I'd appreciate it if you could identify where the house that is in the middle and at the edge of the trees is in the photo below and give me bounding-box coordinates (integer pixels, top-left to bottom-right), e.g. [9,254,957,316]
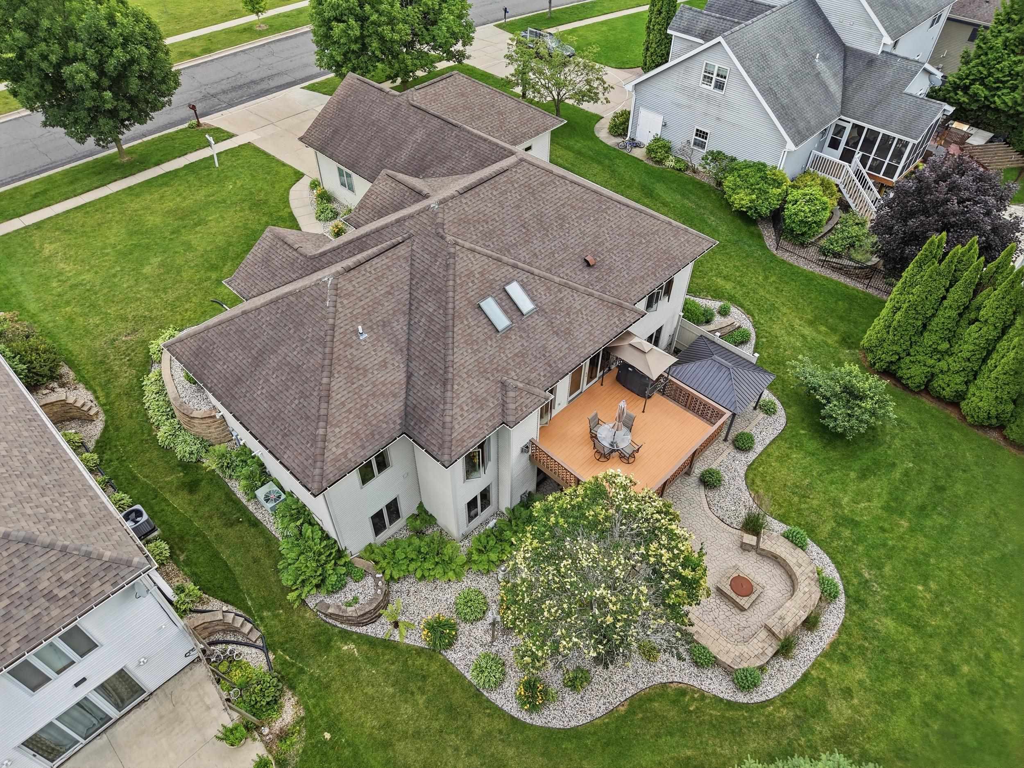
[158,71,723,563]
